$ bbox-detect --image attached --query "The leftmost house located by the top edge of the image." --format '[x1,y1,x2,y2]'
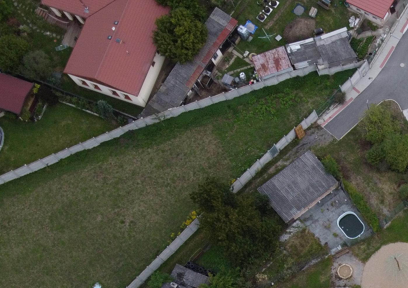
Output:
[41,0,171,104]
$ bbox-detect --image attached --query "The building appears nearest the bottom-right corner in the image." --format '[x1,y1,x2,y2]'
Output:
[259,150,341,225]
